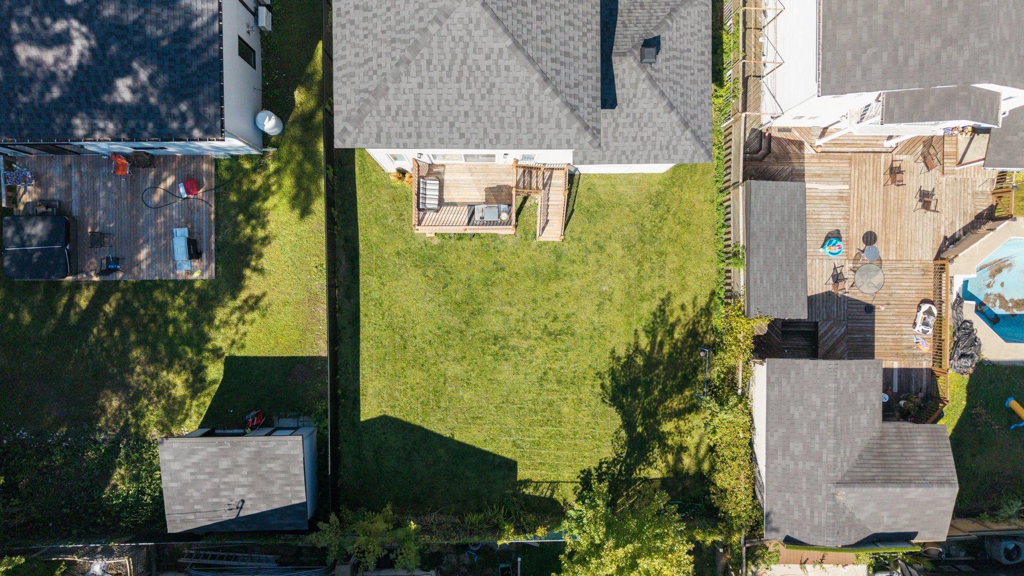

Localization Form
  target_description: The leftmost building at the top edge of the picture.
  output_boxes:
[0,0,264,156]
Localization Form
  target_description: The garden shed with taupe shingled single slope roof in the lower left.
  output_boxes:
[158,420,317,533]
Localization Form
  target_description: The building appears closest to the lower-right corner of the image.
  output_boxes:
[751,358,959,548]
